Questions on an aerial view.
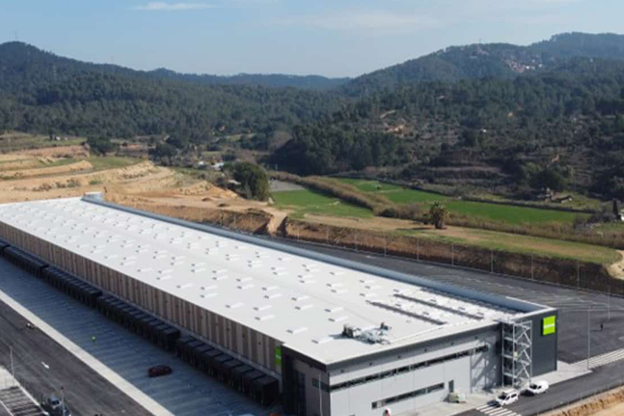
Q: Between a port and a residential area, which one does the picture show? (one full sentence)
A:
The area seen from above is a residential area.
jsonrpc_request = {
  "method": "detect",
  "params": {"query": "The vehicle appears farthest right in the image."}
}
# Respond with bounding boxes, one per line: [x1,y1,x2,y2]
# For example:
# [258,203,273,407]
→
[525,378,551,395]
